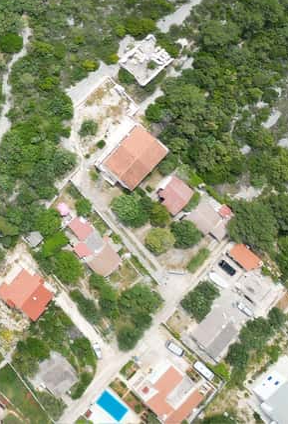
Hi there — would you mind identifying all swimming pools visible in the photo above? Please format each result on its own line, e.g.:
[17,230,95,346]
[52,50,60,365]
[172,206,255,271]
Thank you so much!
[93,387,129,424]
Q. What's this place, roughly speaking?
residential area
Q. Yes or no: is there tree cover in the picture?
Yes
